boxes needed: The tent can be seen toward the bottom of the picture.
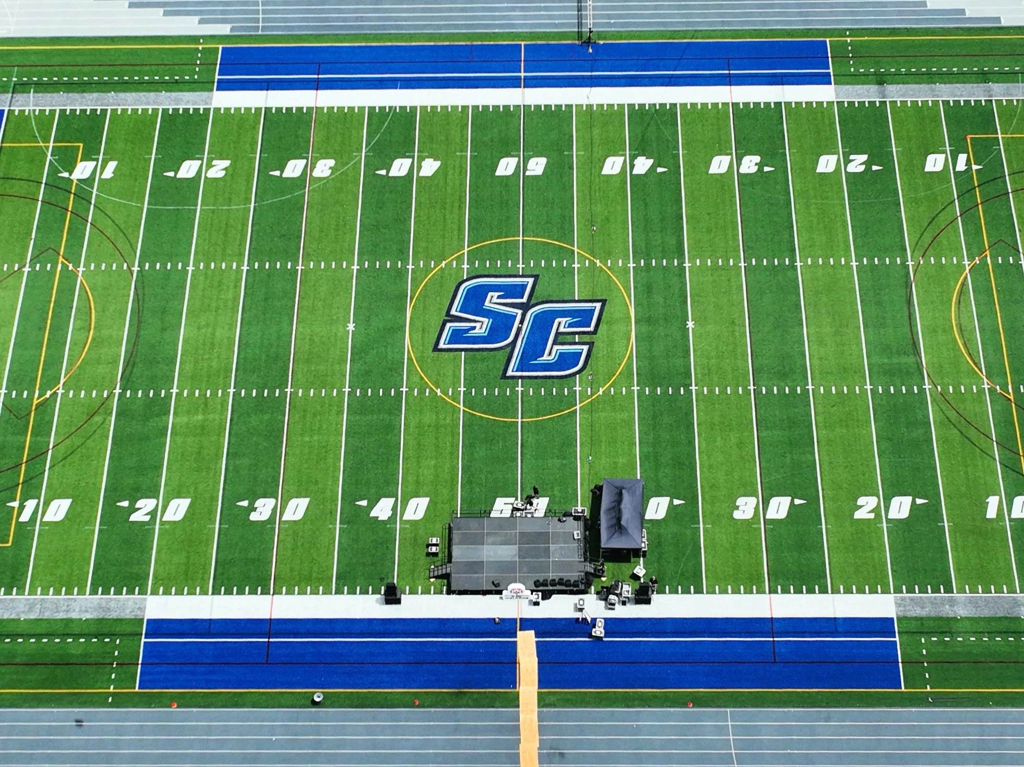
[601,478,644,563]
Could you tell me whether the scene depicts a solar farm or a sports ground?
sports ground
